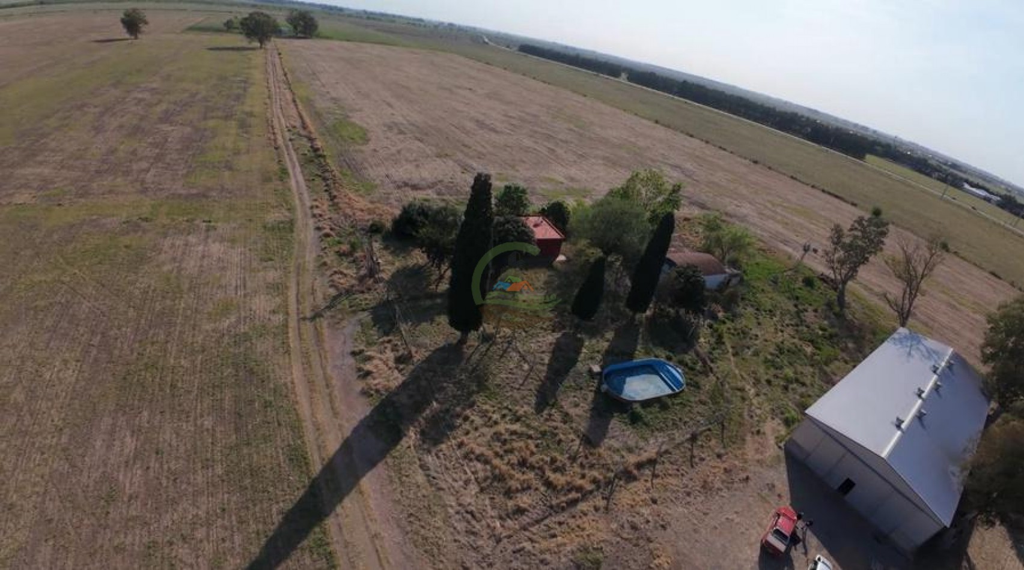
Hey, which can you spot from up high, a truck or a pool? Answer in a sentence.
There is a pool in the scene.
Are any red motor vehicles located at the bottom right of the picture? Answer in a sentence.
Yes, a red motor vehicle shows up at the bottom right of the picture.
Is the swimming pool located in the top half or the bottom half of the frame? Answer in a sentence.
The bottom half of the photo is where the swimming pool is.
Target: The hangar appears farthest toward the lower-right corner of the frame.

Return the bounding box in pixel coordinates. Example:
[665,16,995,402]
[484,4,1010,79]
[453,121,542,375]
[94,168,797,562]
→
[783,329,1000,556]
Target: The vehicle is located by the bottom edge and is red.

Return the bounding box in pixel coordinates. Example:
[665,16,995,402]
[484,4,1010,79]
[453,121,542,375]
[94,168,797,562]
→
[760,506,808,555]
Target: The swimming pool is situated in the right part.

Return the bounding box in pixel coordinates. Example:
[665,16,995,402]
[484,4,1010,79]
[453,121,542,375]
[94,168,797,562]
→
[601,358,686,406]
